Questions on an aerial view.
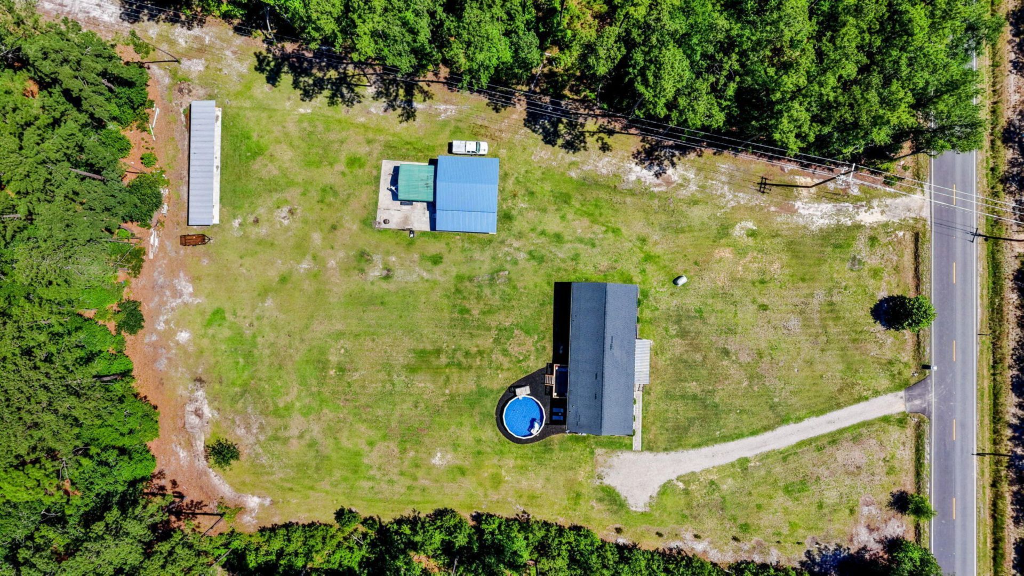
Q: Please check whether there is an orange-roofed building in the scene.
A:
No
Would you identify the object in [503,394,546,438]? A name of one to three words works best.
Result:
swimming pool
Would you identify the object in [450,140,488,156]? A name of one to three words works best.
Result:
vehicle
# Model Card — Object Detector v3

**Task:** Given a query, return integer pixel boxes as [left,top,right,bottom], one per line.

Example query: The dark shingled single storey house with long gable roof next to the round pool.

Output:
[566,282,639,436]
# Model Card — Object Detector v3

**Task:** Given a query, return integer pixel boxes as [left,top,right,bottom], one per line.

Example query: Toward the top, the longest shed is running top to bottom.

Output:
[188,100,223,226]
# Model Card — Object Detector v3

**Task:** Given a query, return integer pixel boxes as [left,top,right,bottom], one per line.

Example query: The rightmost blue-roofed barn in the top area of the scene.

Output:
[436,155,499,235]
